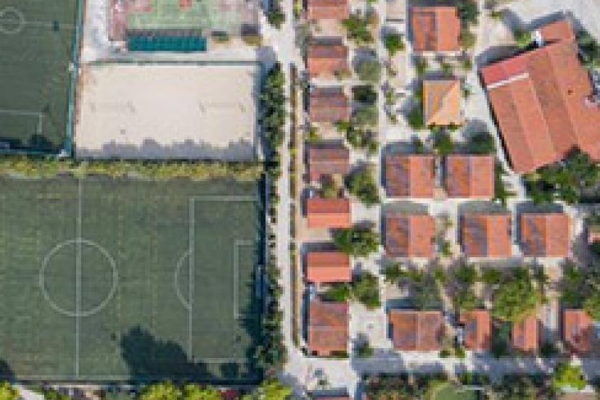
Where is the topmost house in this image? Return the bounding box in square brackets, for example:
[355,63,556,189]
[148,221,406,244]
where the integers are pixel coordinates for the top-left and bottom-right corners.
[306,0,349,19]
